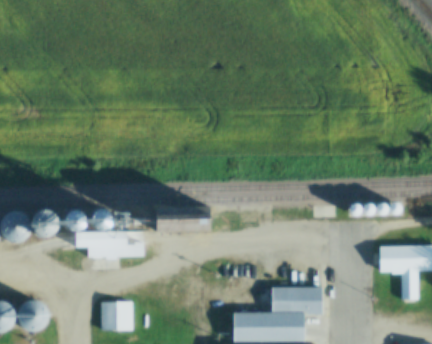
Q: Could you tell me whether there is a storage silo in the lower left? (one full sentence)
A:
Yes, a storage silo is visible in the lower left.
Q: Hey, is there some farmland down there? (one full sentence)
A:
Yes, some farmland is visible.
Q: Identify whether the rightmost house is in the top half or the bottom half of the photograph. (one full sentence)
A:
It is in the bottom half that the rightmost house appears.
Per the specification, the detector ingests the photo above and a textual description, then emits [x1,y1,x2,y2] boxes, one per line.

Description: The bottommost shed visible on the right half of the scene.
[233,312,304,342]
